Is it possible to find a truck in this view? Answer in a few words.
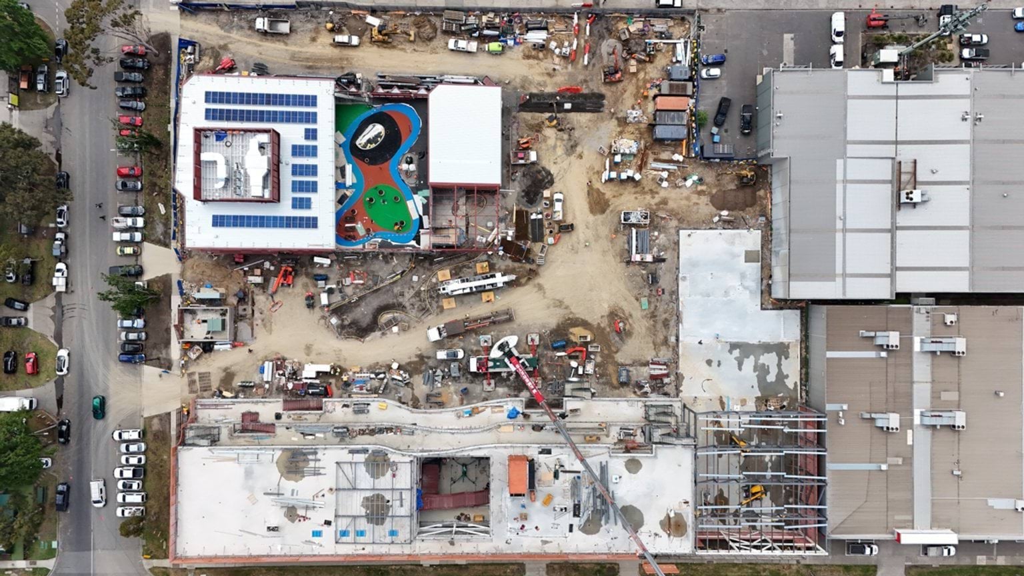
Yes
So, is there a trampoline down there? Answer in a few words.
No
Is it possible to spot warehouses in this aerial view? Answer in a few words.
Yes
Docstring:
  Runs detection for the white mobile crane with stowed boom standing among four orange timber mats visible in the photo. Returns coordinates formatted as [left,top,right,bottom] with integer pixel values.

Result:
[438,269,517,297]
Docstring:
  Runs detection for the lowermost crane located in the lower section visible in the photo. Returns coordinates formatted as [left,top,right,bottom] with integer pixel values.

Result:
[469,335,663,576]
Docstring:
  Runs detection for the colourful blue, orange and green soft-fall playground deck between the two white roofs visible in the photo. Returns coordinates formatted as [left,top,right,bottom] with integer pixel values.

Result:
[332,99,435,254]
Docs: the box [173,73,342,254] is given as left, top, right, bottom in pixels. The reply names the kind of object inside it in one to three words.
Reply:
building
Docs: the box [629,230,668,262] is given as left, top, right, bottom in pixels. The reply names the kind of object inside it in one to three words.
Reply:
trailer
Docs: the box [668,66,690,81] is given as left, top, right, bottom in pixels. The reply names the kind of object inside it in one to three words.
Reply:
shed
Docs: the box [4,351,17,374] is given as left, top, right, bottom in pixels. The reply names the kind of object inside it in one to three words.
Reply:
vehicle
